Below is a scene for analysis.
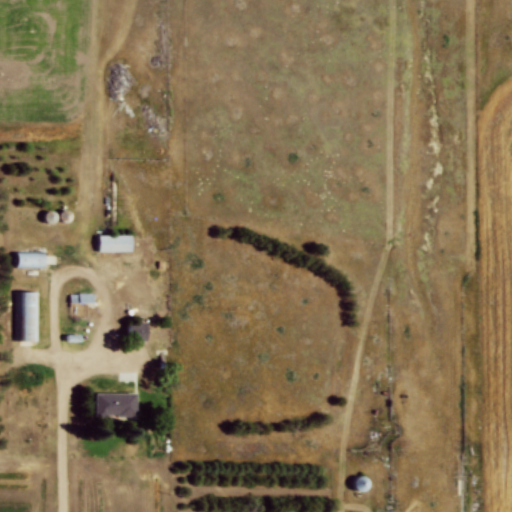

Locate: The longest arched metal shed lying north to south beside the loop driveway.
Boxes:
[21,291,39,342]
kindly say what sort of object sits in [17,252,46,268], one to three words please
shed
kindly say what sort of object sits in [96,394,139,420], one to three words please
house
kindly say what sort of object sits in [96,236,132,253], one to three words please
shed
